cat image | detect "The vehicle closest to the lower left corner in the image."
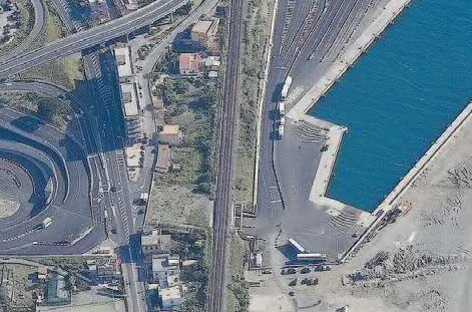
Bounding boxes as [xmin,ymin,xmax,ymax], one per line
[40,215,54,229]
